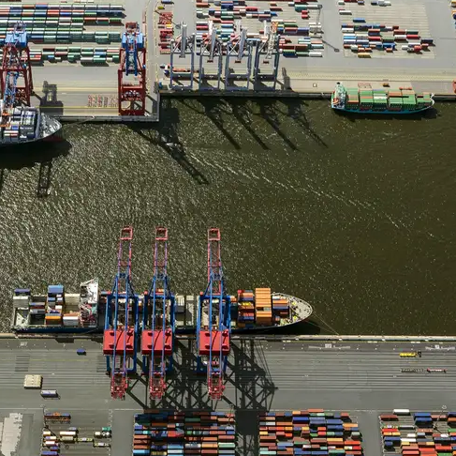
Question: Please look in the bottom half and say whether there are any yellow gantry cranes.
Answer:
No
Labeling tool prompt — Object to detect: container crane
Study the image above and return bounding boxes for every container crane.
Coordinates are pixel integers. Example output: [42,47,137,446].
[253,23,286,93]
[222,23,253,93]
[165,23,197,93]
[0,22,36,133]
[193,23,224,93]
[189,230,236,402]
[136,229,182,402]
[112,22,153,115]
[100,229,143,400]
